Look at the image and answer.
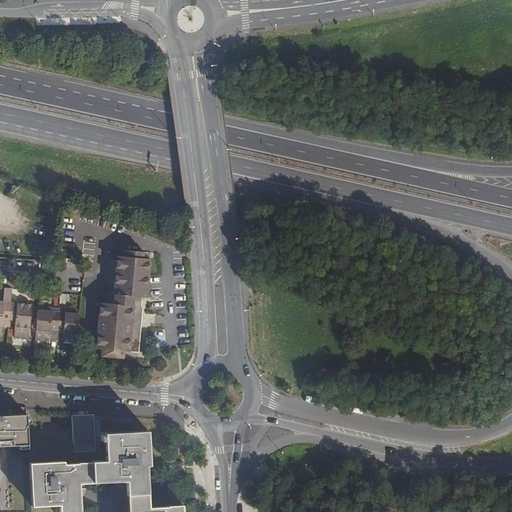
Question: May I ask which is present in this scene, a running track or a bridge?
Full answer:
Visible in the photo is a bridge.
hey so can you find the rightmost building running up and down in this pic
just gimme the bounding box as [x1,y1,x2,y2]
[98,252,152,359]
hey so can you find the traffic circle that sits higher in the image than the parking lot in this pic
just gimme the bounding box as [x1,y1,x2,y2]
[164,0,217,45]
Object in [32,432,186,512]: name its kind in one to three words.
building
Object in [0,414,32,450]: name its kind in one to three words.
building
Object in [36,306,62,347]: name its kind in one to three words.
house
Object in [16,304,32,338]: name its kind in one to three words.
house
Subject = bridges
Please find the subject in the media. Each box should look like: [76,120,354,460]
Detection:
[167,66,235,205]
